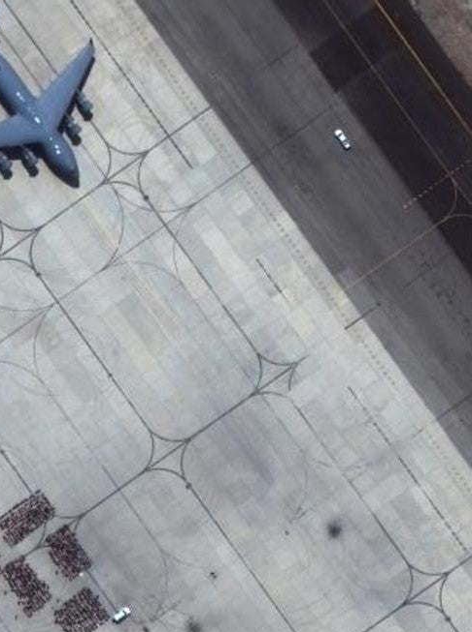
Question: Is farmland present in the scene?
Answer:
No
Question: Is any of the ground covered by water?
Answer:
No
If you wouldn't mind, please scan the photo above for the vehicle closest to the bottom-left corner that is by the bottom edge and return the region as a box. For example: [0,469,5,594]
[111,607,130,621]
